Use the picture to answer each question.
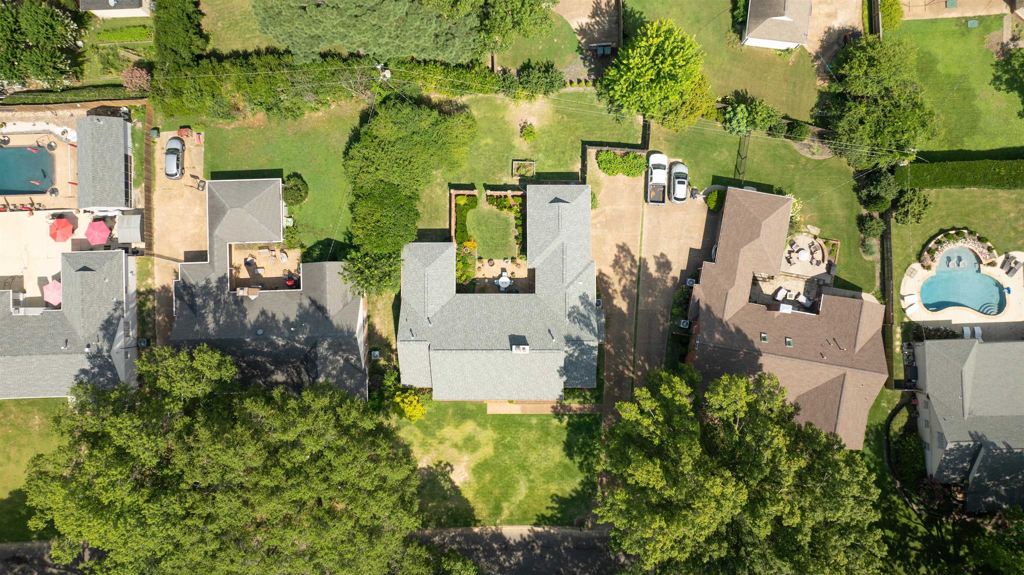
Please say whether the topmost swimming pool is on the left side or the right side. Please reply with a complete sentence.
The topmost swimming pool appears in the left half of the scene.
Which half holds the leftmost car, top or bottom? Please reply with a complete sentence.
The leftmost car is in the top half of the image.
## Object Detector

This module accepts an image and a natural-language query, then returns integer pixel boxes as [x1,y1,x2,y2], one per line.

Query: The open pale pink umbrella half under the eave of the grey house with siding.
[44,279,61,306]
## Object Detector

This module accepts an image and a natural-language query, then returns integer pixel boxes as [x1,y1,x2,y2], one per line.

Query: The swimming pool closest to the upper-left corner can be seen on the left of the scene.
[0,147,55,195]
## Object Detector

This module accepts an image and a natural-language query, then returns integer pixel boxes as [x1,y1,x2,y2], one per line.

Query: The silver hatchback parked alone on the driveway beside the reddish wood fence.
[161,138,184,179]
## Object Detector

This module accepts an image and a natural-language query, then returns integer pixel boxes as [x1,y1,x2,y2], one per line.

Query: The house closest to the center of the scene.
[396,185,605,400]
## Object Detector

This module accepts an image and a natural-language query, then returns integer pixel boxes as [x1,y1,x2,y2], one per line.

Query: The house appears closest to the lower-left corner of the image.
[0,250,137,399]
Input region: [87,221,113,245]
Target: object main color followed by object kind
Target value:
pink umbrella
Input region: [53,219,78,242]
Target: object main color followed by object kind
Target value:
red umbrella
